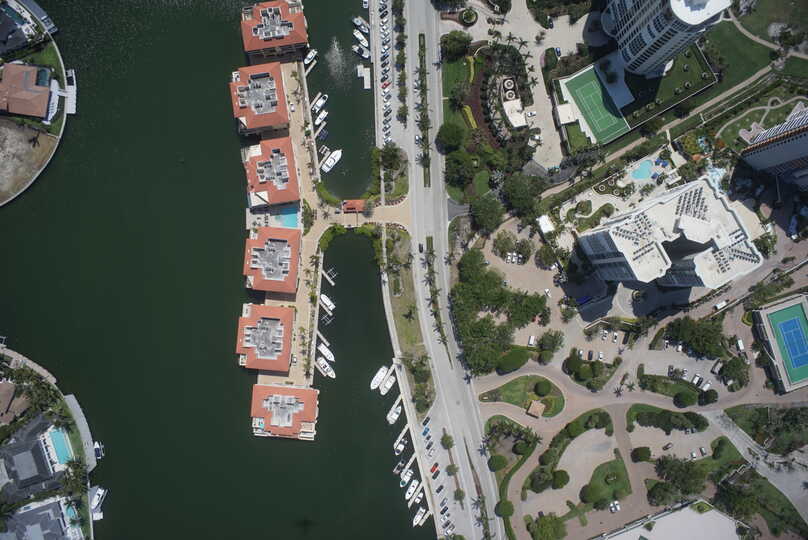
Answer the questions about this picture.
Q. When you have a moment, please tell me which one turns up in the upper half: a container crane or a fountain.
fountain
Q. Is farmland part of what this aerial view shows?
No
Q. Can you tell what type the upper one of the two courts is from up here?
tennis court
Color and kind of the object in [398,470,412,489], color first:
white boat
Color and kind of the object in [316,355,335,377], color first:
white boat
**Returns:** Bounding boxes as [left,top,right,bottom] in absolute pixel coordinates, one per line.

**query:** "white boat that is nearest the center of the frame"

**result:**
[322,295,336,311]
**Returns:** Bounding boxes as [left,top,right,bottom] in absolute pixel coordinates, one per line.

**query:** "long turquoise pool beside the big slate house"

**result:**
[48,429,72,466]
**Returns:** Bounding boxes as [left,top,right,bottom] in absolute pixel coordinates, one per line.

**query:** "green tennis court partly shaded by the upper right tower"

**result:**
[566,67,630,143]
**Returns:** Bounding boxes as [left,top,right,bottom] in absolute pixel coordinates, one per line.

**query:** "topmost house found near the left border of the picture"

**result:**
[0,3,32,58]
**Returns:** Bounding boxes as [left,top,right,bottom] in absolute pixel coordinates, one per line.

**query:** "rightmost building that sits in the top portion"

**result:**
[741,98,808,179]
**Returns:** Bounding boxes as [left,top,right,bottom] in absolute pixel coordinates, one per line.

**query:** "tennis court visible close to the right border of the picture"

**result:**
[768,304,808,383]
